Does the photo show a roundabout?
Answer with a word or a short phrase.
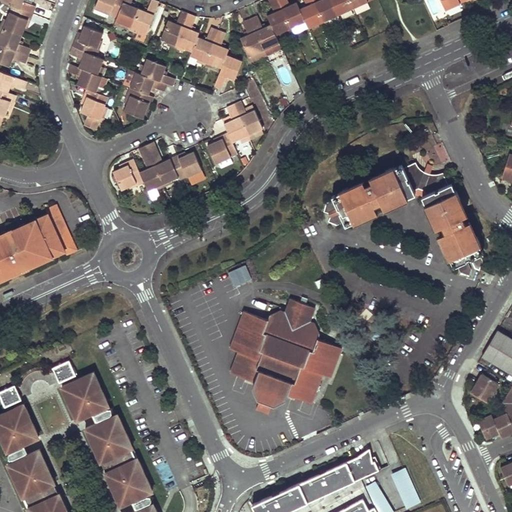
Yes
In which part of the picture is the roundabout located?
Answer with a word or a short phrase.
left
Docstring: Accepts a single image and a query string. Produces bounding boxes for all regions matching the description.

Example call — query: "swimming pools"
[110,46,120,58]
[9,68,22,76]
[115,69,126,80]
[277,65,292,86]
[429,0,442,16]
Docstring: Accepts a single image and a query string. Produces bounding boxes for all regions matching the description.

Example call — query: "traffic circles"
[98,227,157,286]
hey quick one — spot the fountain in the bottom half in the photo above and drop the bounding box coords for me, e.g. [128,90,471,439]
[30,374,51,396]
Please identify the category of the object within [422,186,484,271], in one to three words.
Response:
building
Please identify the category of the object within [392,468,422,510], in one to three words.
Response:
shed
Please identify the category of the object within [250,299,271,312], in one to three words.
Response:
vehicle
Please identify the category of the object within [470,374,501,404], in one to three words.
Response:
house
